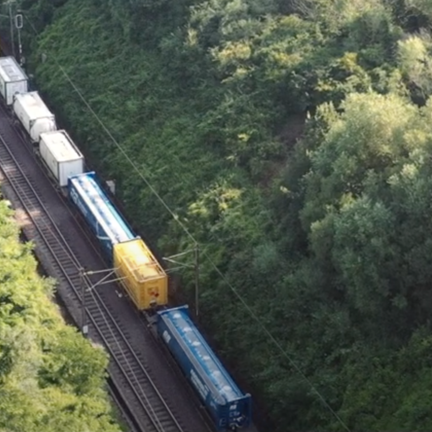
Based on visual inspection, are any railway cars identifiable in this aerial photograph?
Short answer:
Yes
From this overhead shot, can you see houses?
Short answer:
No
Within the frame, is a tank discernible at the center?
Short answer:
No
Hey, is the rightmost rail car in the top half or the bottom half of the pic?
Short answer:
bottom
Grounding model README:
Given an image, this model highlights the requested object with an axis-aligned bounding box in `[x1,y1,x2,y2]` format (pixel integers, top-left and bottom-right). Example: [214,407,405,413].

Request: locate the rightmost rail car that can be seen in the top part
[13,112,69,193]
